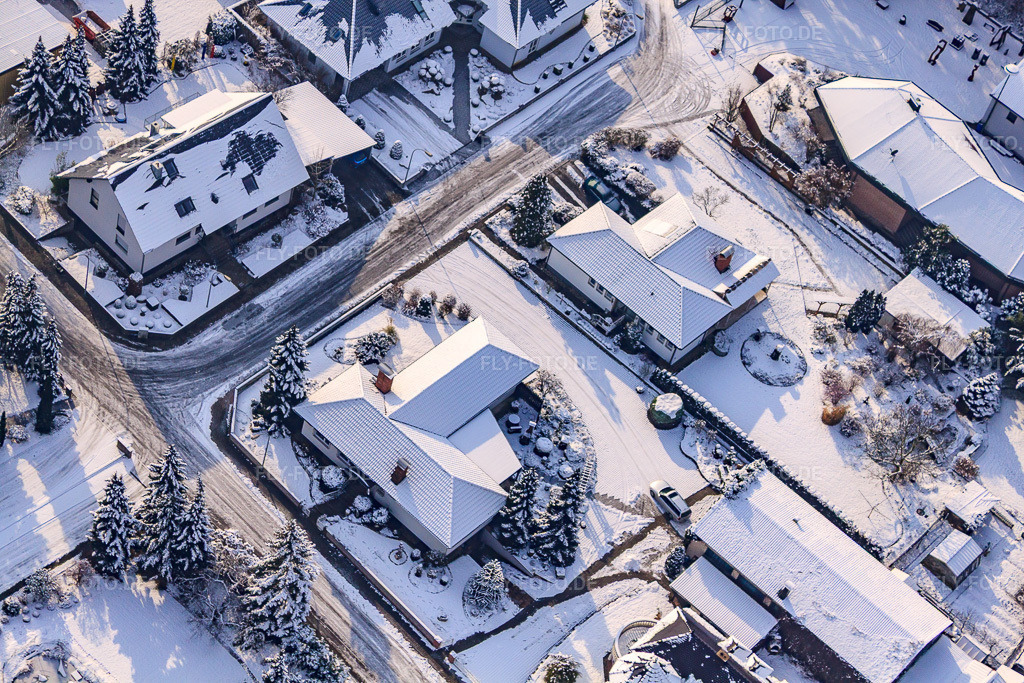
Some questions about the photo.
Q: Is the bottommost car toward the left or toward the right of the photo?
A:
right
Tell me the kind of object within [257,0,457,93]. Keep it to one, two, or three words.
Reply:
house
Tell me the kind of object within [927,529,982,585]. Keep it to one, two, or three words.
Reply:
shed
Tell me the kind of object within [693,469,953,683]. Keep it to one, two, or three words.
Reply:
building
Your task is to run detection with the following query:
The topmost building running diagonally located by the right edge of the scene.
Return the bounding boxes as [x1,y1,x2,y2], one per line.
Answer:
[815,76,1024,302]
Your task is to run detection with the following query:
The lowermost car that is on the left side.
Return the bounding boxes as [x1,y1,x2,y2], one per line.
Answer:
[346,149,368,164]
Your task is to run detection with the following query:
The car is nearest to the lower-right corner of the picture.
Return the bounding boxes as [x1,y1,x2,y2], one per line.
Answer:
[650,474,693,520]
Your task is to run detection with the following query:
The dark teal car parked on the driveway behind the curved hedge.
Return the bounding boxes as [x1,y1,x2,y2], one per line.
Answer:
[587,175,624,211]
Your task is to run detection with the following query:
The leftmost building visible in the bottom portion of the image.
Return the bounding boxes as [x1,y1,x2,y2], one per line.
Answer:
[294,316,538,554]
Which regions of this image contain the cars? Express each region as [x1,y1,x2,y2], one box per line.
[346,149,368,164]
[650,474,693,520]
[587,175,624,211]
